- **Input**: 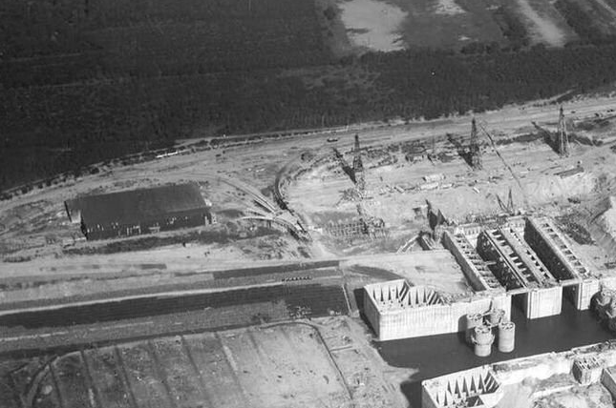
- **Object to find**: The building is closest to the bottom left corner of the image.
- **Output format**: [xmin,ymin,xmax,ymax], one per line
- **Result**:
[66,184,210,240]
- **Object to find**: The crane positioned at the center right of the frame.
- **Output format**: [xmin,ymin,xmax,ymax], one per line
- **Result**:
[480,122,537,212]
